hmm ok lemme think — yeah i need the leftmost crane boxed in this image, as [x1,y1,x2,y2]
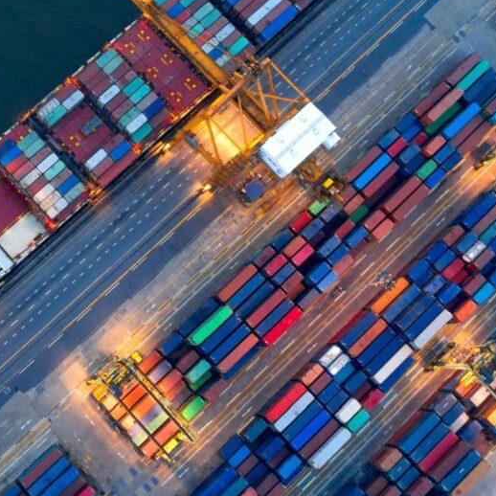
[86,357,199,465]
